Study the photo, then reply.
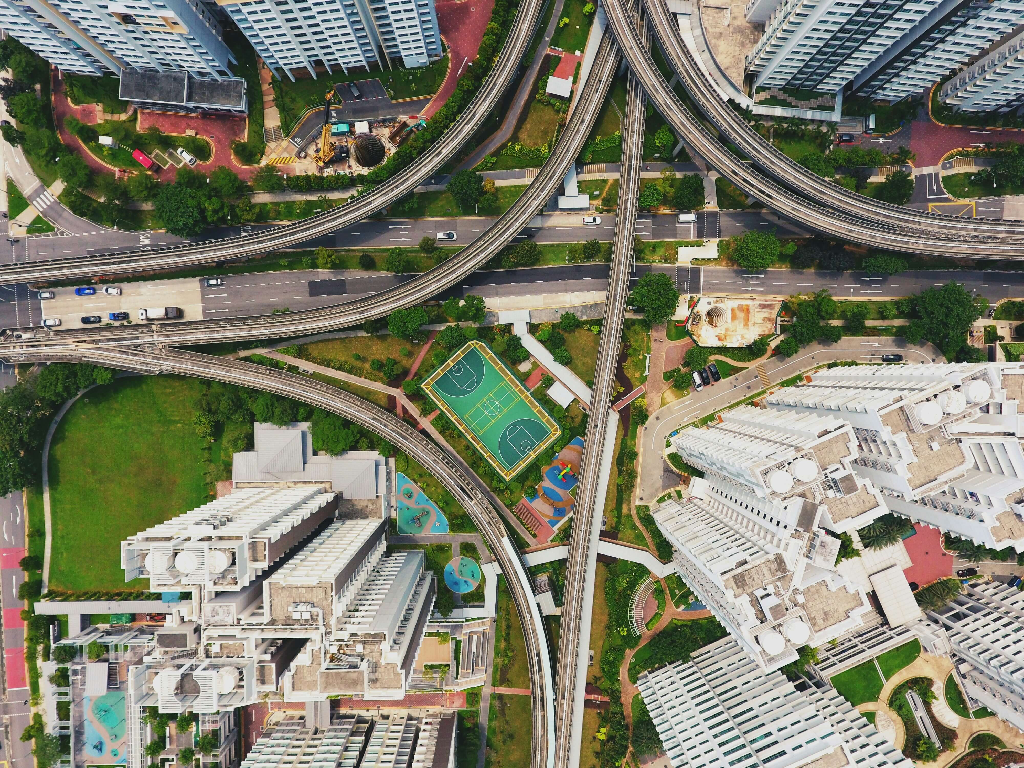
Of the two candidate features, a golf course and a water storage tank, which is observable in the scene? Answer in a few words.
water storage tank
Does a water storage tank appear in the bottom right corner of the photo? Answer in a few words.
Yes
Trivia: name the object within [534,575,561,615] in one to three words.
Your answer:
shed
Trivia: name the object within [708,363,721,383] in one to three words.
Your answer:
vehicle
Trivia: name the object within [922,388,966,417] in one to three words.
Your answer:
water tank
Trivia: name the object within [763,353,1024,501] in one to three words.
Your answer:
building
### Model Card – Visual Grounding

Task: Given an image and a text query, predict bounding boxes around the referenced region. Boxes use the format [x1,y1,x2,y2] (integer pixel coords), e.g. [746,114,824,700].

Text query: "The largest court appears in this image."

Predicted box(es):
[419,334,563,486]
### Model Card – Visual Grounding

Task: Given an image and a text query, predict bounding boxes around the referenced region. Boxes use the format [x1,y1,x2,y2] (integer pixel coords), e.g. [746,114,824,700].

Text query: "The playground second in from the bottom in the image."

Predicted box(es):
[443,556,482,594]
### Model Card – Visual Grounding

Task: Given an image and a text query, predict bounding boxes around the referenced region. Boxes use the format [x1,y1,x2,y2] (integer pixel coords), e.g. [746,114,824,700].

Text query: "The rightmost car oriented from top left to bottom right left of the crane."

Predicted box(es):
[175,148,195,164]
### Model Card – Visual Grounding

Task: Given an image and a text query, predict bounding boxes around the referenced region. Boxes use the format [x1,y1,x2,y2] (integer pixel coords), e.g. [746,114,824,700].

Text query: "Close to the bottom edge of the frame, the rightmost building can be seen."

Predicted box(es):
[921,566,1024,741]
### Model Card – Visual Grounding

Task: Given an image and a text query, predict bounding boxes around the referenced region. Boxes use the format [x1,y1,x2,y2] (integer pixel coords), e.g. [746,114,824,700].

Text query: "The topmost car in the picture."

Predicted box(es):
[347,79,361,100]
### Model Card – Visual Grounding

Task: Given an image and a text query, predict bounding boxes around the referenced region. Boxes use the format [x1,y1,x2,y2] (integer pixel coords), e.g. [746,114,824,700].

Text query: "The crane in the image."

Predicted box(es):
[312,84,349,172]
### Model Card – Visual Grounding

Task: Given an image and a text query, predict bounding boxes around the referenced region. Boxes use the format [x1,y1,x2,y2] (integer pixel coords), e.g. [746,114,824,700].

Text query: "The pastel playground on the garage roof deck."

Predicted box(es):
[85,692,126,764]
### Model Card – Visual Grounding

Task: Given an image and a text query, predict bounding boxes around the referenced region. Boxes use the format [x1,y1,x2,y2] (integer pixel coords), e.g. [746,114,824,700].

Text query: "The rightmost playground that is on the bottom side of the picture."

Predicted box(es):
[524,437,585,528]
